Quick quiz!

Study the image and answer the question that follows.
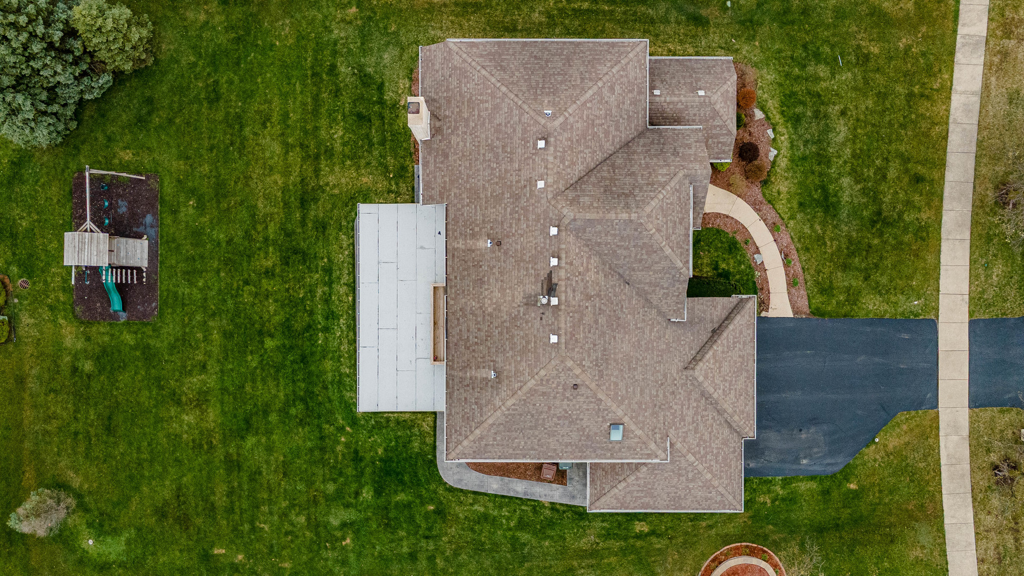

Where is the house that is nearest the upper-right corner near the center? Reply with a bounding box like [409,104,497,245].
[407,37,759,514]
